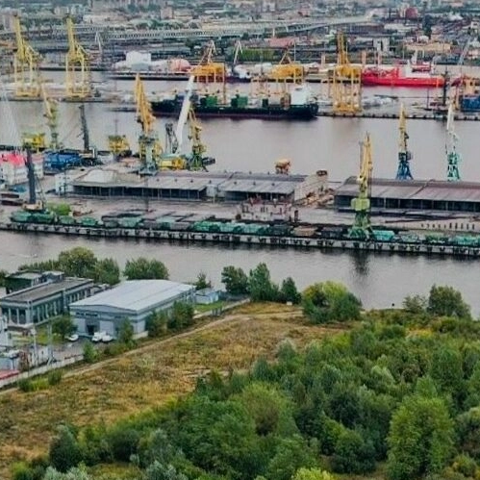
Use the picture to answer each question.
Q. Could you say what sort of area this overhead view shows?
port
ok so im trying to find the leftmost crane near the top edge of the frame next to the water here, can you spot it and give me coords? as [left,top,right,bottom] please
[9,18,44,99]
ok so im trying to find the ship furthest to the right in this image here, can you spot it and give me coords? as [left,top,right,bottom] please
[361,47,454,86]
